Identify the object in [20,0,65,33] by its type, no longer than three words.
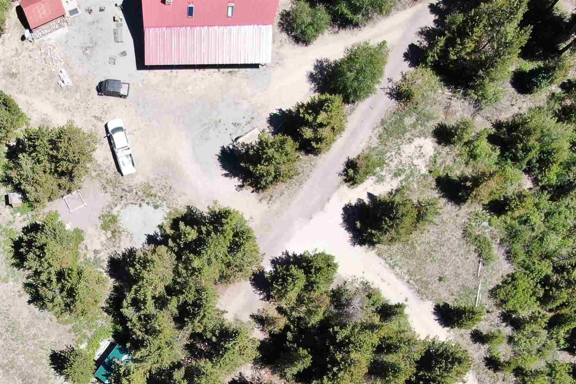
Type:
building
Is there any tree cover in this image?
Yes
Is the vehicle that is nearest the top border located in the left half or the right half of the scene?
left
